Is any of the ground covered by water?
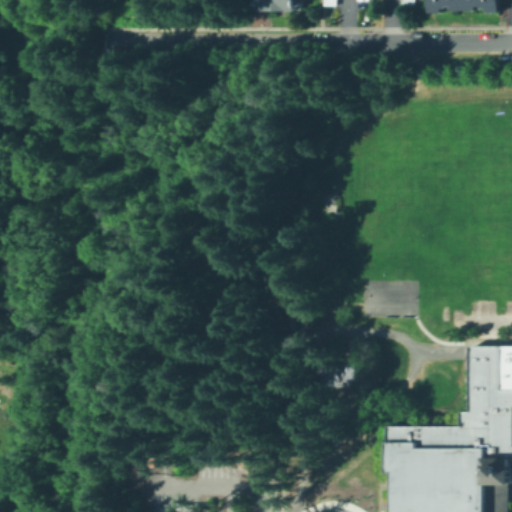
No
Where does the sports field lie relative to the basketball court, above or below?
above it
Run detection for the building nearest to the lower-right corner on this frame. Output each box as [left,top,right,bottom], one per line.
[383,346,512,512]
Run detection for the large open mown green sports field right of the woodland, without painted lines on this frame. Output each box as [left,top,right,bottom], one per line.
[348,104,512,274]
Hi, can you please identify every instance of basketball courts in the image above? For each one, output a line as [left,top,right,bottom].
[363,281,418,316]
